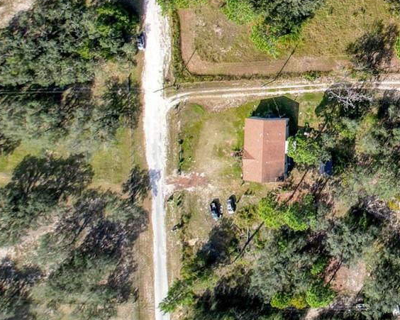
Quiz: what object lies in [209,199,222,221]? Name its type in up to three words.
vehicle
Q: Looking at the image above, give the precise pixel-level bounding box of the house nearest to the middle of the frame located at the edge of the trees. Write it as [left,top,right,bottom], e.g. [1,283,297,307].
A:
[240,116,291,184]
